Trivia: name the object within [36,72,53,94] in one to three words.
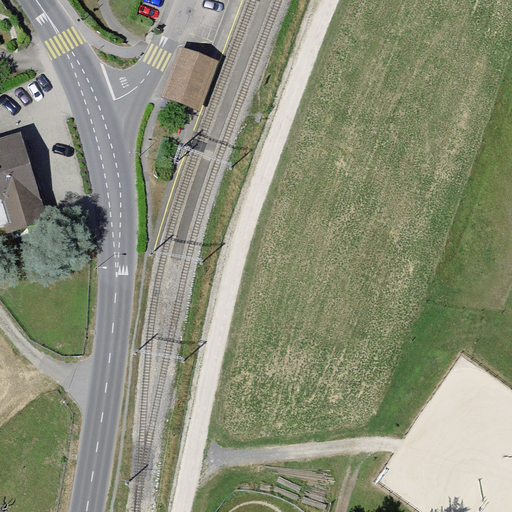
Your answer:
car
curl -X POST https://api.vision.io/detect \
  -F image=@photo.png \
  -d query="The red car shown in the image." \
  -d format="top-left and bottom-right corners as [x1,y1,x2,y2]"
[138,5,160,18]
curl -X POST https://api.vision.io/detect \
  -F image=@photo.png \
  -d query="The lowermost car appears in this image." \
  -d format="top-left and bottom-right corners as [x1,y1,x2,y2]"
[52,143,74,157]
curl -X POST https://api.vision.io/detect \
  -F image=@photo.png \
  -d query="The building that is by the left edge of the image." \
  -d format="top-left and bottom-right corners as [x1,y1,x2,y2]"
[0,130,46,233]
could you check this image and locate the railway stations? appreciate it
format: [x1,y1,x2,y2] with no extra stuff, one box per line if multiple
[162,46,219,109]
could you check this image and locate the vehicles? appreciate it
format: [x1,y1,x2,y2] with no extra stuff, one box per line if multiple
[14,86,34,107]
[0,94,21,116]
[27,80,44,102]
[202,0,224,12]
[52,143,74,157]
[144,0,164,6]
[36,72,53,94]
[138,5,160,18]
